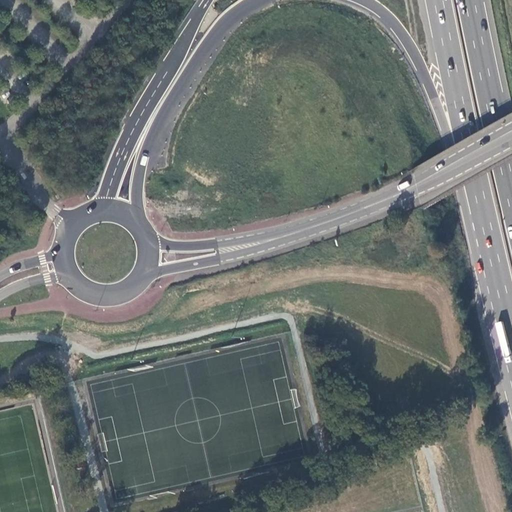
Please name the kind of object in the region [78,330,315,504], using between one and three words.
soccer field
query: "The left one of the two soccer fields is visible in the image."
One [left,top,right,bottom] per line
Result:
[0,397,66,512]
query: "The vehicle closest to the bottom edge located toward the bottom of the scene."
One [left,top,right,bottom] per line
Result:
[494,321,510,362]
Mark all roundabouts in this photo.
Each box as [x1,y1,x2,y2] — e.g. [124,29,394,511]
[0,133,216,308]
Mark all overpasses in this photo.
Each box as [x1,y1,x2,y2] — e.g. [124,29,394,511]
[412,112,512,206]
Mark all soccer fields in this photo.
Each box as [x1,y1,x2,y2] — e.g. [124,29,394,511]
[78,330,315,504]
[0,397,66,512]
